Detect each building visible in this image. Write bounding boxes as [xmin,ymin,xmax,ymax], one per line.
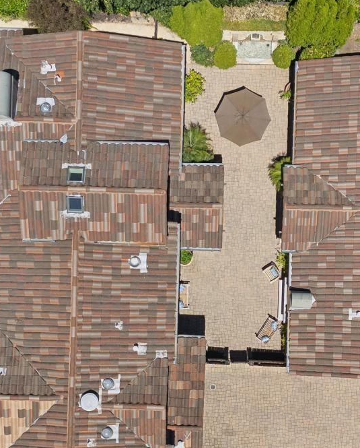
[277,52,360,381]
[0,26,227,448]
